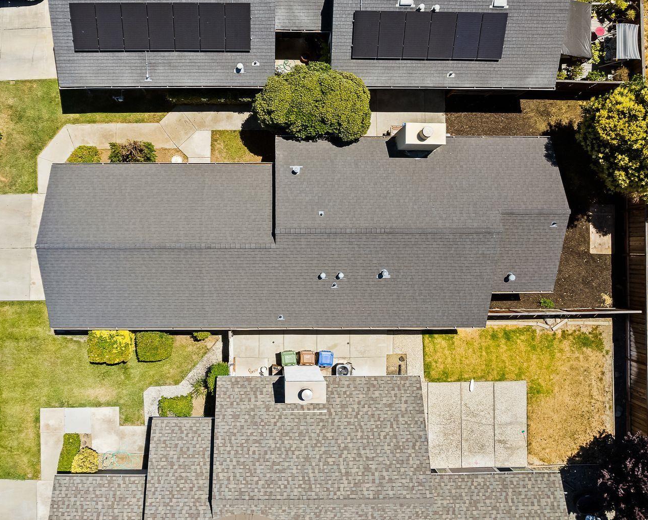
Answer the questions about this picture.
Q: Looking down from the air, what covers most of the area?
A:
buildings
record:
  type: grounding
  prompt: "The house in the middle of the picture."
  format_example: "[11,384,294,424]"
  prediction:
[37,123,571,331]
